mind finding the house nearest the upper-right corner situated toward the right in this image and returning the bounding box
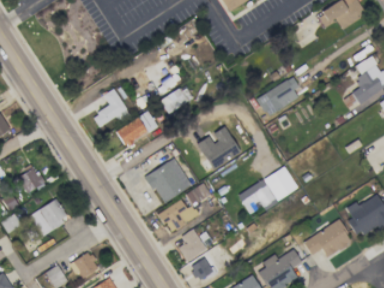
[320,0,364,30]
